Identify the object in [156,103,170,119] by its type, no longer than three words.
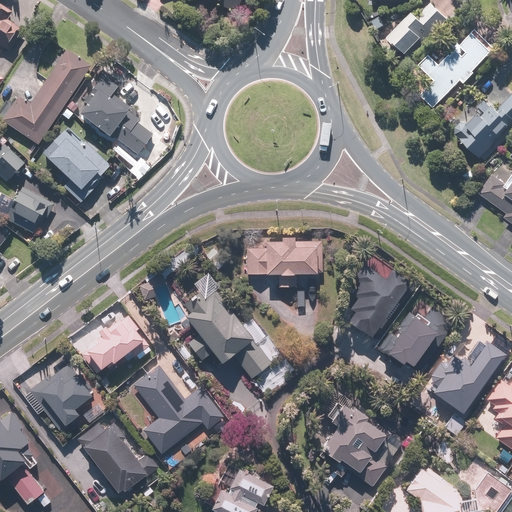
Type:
vehicle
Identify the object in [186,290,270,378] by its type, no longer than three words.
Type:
house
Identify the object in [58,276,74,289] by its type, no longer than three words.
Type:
vehicle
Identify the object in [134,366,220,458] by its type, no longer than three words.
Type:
house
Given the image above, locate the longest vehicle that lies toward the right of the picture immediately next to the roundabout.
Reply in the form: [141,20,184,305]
[318,124,330,151]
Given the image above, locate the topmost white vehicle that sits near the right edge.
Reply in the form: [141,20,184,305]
[483,286,500,299]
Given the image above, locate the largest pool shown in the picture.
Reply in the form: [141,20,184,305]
[152,274,186,326]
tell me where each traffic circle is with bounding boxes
[226,80,320,174]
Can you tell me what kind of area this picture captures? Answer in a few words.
residential area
